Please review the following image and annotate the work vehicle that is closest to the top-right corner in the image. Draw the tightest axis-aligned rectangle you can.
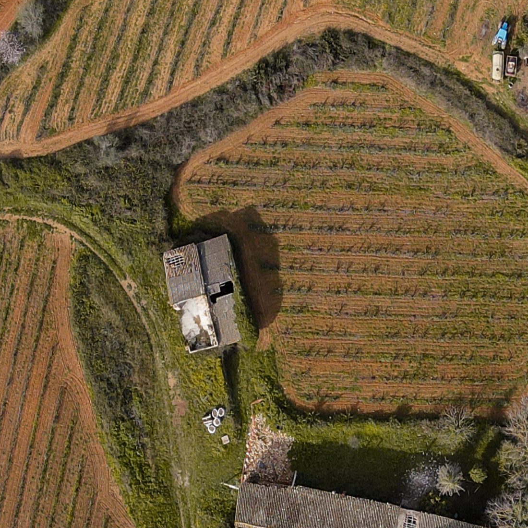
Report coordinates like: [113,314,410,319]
[491,17,510,44]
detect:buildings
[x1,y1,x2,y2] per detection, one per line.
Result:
[162,234,246,355]
[221,470,480,528]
